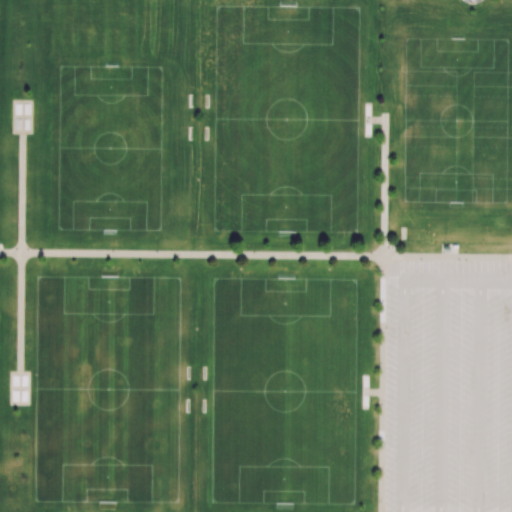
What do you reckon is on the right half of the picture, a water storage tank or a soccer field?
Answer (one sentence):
There is a soccer field on the right half of the picture.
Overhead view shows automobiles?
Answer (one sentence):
No, I find no automobile anywhere in the image.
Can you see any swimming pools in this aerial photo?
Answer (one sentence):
No, I can't see a single swimming pool in this photo.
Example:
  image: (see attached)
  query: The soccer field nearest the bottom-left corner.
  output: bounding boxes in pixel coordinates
[35,276,182,504]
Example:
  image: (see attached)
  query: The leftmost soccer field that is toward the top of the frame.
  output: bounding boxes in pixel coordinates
[58,65,163,232]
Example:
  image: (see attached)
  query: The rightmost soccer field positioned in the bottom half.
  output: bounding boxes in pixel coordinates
[212,277,358,506]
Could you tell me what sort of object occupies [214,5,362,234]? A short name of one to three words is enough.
soccer field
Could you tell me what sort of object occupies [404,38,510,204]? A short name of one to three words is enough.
soccer field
